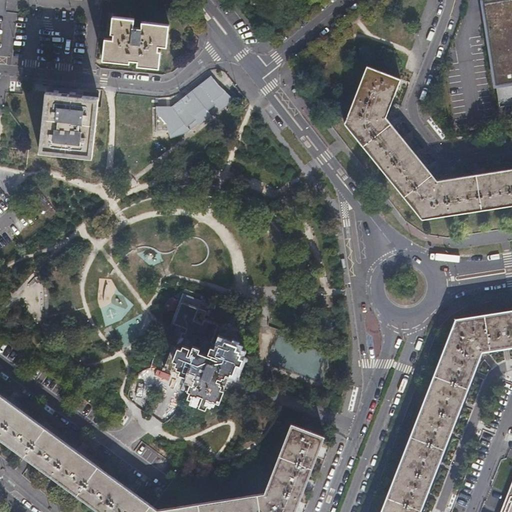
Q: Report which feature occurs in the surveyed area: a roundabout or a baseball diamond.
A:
roundabout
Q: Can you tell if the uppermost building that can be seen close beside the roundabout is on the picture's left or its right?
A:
right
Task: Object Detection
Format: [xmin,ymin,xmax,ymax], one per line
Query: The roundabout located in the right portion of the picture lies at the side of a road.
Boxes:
[364,244,446,326]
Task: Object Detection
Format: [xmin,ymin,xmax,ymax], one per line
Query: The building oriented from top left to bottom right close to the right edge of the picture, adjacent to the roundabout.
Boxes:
[344,67,512,220]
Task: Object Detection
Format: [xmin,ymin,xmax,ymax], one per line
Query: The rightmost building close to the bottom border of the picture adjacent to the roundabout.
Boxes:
[380,310,512,512]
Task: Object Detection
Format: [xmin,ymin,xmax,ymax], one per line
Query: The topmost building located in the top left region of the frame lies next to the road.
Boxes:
[102,18,170,71]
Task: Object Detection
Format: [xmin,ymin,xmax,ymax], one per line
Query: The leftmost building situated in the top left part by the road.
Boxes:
[38,92,100,162]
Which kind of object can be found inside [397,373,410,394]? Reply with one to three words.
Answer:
vehicle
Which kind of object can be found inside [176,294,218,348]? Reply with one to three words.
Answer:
building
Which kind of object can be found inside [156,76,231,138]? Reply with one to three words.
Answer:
building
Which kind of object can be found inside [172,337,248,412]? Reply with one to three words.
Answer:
house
